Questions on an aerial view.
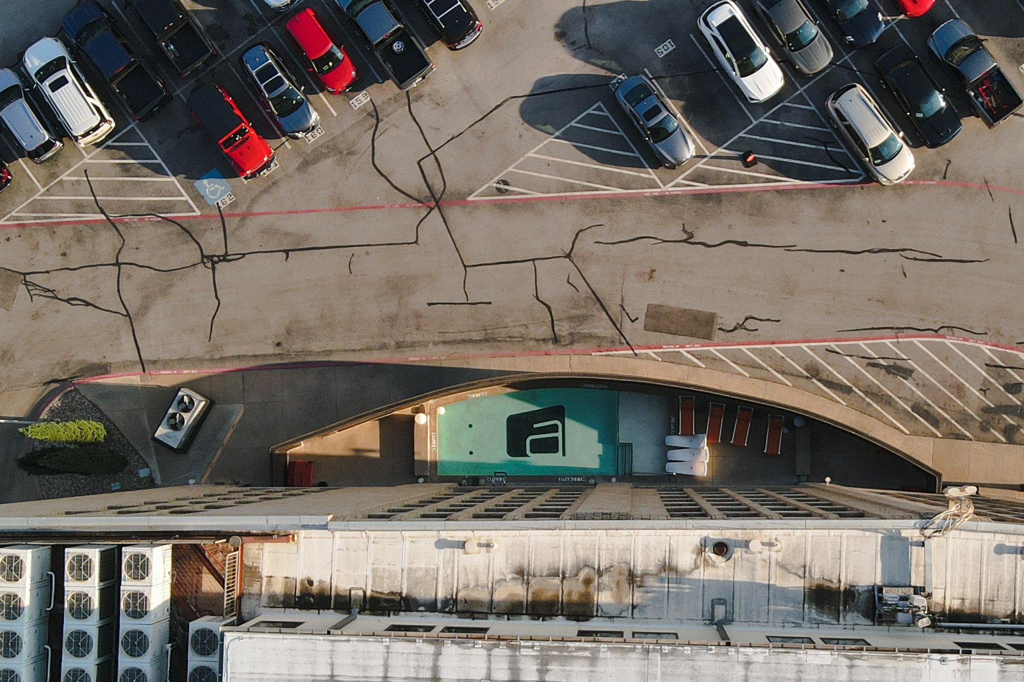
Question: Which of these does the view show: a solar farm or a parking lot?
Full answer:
It's a parking lot.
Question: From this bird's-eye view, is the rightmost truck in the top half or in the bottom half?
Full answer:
The top half of the photo is where the rightmost truck is.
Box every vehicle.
[694,0,781,110]
[418,0,484,54]
[0,142,17,189]
[931,15,1024,141]
[613,72,694,173]
[868,40,960,155]
[815,0,880,55]
[63,0,173,125]
[184,75,278,184]
[278,3,358,100]
[819,79,907,190]
[129,0,221,81]
[236,34,321,140]
[750,0,830,81]
[29,33,117,151]
[0,58,67,166]
[346,0,439,94]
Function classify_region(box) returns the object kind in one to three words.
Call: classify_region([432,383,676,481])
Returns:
swimming pool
